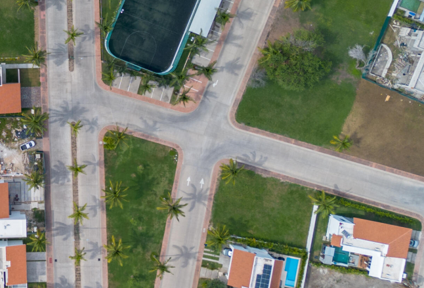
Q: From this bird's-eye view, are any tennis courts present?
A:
No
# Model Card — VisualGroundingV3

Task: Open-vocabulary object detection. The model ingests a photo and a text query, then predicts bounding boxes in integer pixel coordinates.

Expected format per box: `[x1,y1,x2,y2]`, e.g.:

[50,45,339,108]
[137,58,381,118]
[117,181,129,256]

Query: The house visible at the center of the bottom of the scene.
[221,242,284,288]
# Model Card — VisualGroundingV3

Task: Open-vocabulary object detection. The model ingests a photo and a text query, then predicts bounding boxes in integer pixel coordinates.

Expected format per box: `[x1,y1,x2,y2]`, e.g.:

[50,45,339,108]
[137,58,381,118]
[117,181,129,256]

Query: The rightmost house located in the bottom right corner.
[315,212,413,282]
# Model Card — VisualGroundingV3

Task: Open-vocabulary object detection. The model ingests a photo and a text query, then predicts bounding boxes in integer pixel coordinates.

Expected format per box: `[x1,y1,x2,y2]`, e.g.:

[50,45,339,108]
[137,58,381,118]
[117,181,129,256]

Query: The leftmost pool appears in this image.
[284,256,300,288]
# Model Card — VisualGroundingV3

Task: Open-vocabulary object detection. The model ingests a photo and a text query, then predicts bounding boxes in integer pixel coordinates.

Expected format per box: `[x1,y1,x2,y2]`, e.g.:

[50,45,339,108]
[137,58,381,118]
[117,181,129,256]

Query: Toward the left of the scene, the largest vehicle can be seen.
[18,138,38,152]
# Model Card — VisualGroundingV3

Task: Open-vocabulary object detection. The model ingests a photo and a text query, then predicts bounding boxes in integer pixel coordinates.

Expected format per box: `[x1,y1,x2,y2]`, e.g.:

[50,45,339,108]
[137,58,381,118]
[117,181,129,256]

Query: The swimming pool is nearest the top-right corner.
[399,0,423,14]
